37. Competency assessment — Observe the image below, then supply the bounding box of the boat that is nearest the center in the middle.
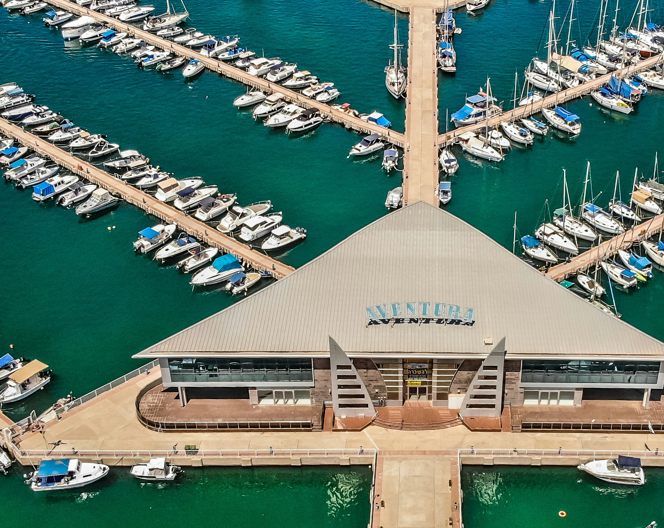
[261,229,311,253]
